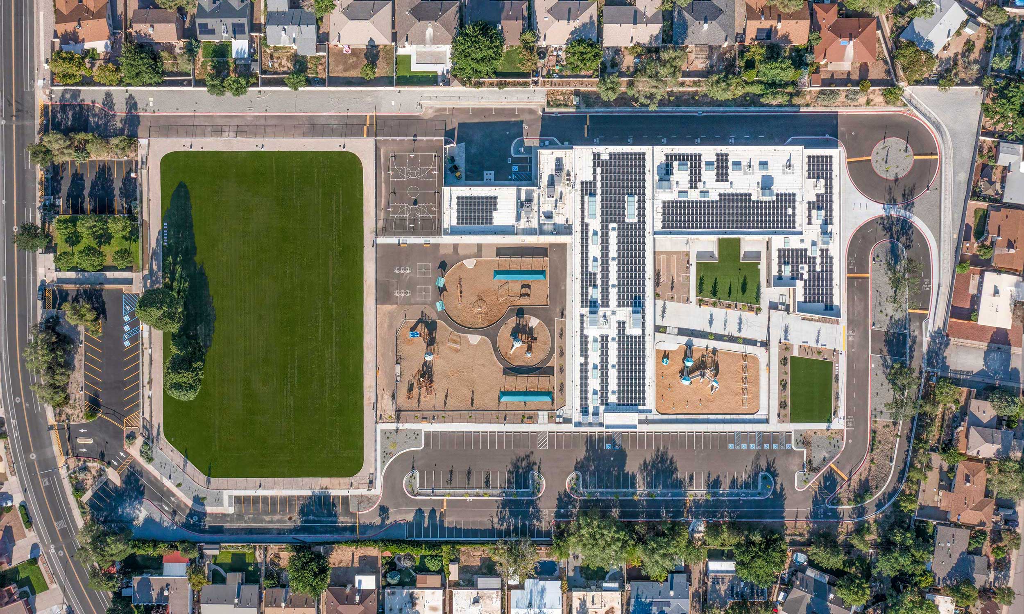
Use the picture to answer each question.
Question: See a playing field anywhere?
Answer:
Yes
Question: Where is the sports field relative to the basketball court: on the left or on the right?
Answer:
to the left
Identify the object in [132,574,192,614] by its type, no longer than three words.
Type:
house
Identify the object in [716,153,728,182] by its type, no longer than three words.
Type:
solar array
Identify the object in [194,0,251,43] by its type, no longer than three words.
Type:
house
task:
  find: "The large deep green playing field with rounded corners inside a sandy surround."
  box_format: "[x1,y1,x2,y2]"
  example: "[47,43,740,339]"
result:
[160,151,364,478]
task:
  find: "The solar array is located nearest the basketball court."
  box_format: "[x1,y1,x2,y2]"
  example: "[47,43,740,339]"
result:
[457,197,496,225]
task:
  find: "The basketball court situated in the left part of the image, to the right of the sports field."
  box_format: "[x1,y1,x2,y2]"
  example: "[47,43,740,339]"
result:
[376,139,443,236]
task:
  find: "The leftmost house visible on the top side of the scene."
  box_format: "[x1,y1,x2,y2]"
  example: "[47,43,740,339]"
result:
[52,0,115,45]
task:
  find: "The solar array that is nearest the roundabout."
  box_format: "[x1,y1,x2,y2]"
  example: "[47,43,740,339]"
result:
[807,155,831,227]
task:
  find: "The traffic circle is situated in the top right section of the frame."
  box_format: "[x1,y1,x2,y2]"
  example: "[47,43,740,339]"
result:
[871,137,914,180]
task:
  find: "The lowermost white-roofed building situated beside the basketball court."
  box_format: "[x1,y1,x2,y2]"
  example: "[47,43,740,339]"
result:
[442,146,841,435]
